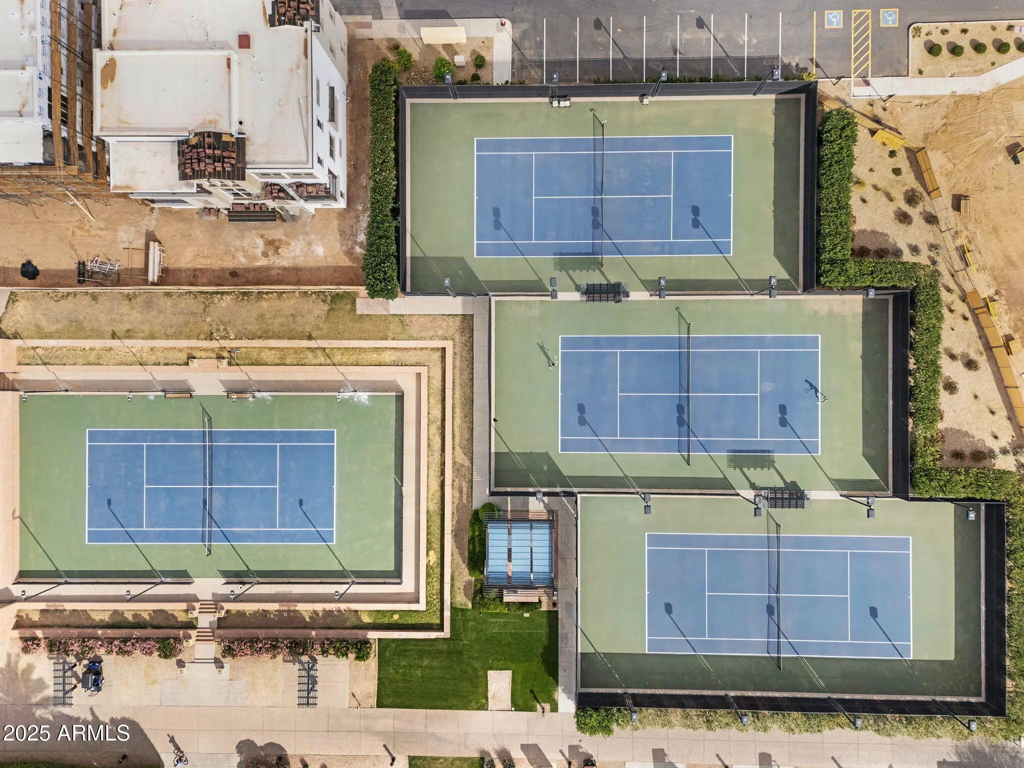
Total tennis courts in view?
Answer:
4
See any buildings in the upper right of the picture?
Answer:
No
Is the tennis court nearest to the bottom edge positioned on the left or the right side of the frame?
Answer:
right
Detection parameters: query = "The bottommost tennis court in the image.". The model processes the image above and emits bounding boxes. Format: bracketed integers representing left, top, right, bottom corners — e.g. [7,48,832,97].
[579,494,986,702]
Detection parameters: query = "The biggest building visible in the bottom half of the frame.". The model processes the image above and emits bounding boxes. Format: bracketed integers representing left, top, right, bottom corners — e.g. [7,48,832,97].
[483,511,555,597]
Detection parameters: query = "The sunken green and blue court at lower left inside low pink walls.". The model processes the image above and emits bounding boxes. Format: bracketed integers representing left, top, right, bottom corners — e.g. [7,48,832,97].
[18,390,403,584]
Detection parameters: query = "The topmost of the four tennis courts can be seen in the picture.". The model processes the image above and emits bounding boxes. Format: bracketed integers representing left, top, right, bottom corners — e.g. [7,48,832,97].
[406,94,805,298]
